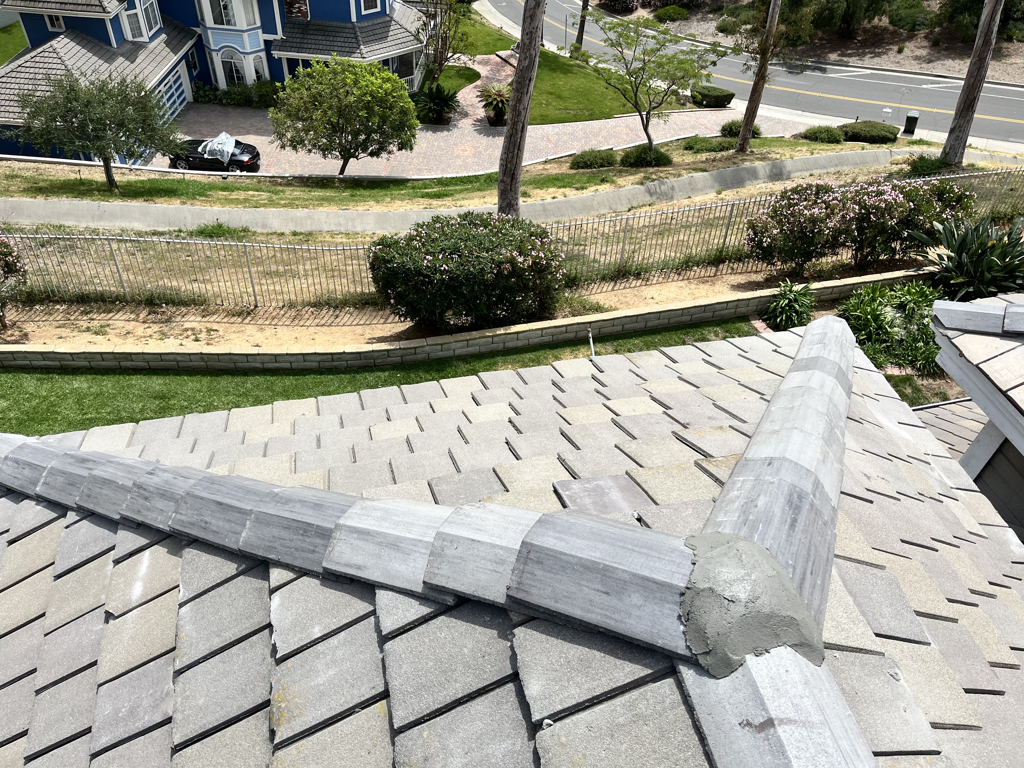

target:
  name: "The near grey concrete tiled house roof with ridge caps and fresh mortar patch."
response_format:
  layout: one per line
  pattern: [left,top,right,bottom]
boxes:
[0,295,1024,768]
